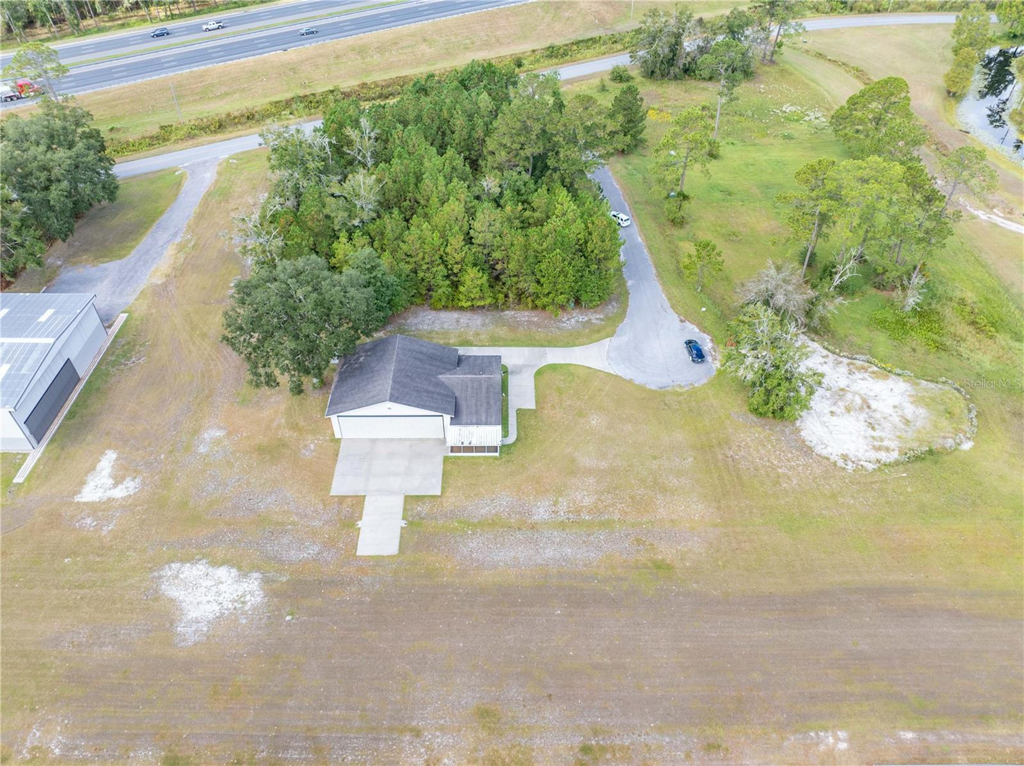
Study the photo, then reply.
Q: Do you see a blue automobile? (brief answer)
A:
Yes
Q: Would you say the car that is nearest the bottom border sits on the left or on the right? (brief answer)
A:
right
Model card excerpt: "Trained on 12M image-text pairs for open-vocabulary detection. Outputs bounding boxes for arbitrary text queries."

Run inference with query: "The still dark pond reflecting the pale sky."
[953,41,1024,173]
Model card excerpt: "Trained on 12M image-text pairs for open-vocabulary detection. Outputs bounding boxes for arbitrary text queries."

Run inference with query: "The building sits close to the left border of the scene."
[0,294,111,454]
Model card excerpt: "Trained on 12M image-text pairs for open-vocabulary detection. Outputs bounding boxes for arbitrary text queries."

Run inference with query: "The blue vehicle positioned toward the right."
[683,340,708,364]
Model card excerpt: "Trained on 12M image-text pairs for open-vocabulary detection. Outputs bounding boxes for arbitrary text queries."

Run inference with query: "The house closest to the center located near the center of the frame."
[325,332,503,456]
